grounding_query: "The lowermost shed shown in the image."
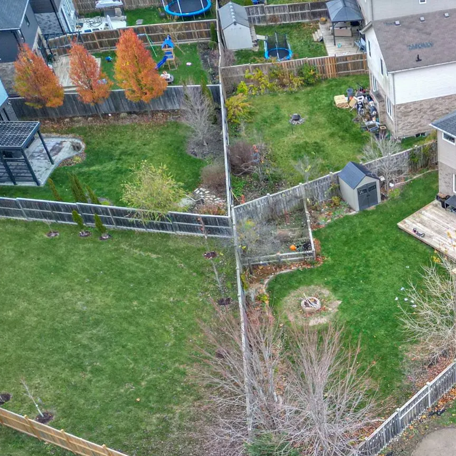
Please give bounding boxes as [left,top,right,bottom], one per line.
[334,158,381,211]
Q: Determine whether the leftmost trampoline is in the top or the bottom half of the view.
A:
top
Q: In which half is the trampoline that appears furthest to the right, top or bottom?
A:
top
